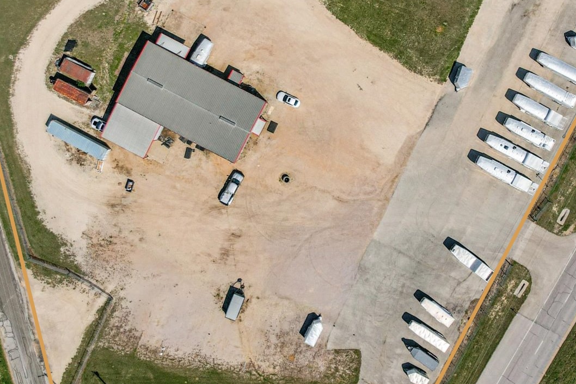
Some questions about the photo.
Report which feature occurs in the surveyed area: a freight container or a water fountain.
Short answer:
freight container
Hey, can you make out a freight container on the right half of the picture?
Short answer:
No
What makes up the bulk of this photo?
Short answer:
paved ground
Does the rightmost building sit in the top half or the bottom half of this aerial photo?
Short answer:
top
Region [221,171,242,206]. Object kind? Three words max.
vehicle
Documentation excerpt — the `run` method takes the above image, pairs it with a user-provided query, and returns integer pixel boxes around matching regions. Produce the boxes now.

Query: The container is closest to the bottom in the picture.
[53,79,94,108]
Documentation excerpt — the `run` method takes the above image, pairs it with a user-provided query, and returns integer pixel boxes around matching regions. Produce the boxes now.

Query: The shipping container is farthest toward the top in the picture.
[59,59,98,85]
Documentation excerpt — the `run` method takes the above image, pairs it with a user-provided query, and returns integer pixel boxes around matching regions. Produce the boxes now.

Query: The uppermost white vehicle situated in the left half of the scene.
[193,36,215,67]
